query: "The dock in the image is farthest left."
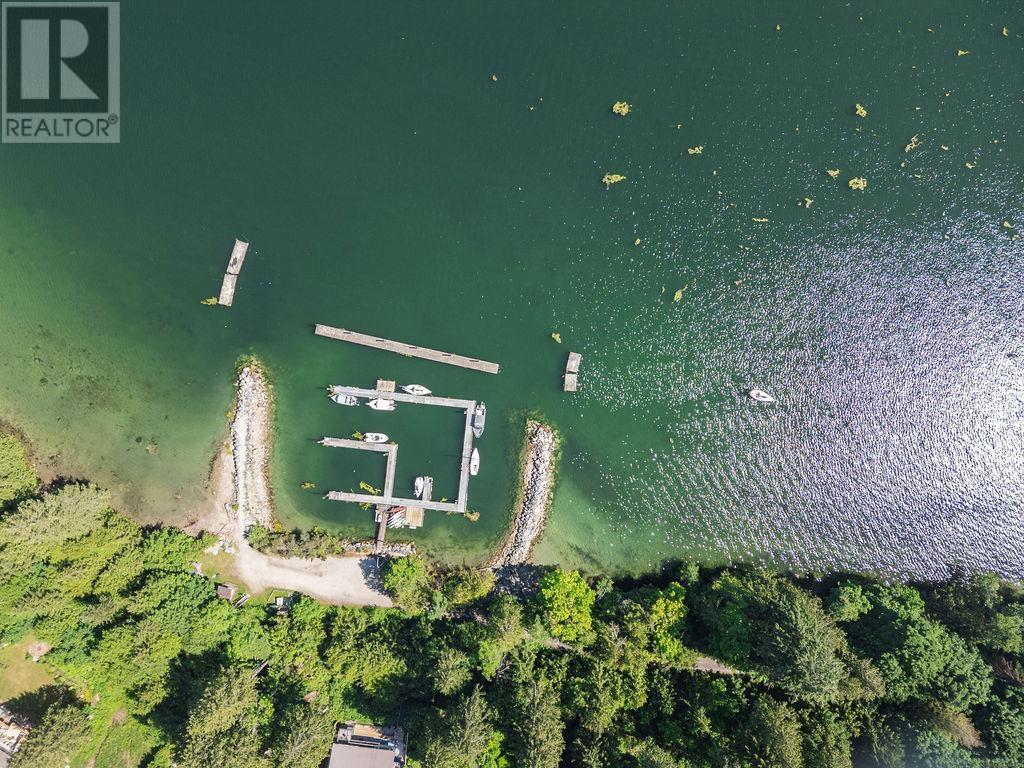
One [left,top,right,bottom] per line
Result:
[226,353,288,543]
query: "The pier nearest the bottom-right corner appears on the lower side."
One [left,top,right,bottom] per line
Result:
[476,409,566,577]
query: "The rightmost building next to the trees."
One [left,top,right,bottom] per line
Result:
[330,720,407,768]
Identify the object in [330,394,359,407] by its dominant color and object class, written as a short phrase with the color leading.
white boat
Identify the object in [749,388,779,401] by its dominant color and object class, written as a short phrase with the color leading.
white boat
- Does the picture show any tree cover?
Yes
